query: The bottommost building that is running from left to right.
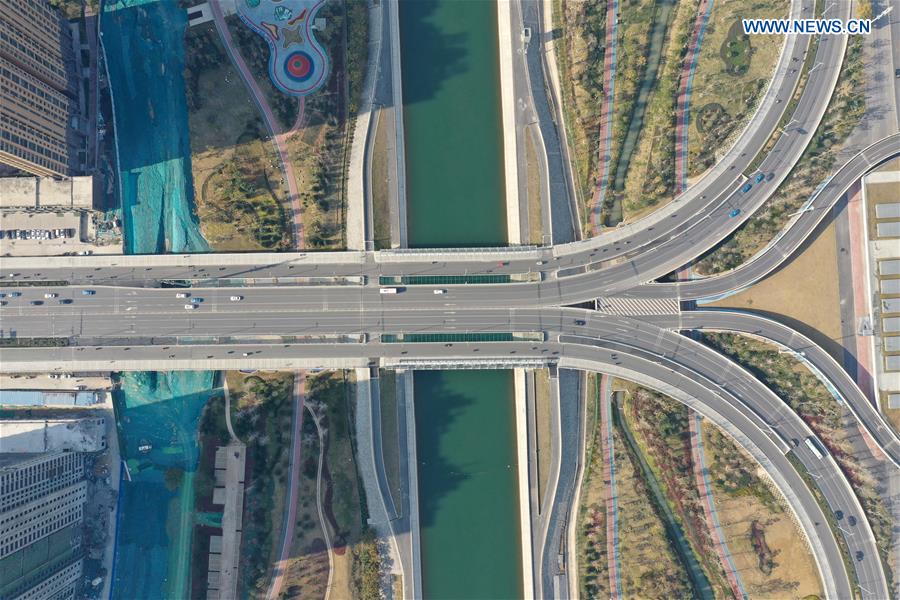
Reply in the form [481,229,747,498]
[0,417,116,452]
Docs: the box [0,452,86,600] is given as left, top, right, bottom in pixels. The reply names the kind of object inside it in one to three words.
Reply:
building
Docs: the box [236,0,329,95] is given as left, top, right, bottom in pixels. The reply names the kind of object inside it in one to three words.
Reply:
playground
